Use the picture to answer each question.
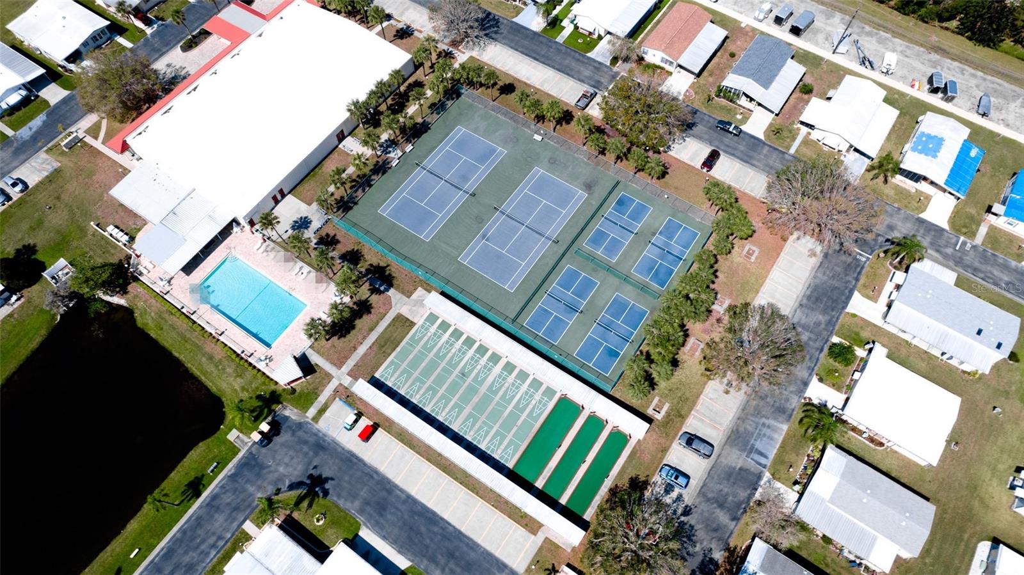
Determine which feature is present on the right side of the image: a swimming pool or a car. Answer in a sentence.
Visible on the right side of the image is a car.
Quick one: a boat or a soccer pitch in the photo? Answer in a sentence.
The image shows a boat.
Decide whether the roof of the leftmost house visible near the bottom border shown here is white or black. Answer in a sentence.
The roof of the leftmost house visible near the bottom border is white.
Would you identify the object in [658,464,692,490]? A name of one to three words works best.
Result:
car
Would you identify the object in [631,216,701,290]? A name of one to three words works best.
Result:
sports court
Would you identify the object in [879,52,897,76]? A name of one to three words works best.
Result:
boat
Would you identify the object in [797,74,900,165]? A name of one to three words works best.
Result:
house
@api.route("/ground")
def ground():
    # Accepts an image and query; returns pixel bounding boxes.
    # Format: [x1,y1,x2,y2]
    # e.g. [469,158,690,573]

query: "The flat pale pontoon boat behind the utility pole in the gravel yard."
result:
[834,29,850,54]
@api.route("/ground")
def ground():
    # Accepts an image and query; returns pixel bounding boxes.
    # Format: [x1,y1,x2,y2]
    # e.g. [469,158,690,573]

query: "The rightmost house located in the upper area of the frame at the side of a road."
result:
[984,170,1024,251]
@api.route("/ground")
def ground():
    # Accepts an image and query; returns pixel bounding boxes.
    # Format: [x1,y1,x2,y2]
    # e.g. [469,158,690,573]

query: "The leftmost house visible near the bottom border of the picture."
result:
[225,523,322,575]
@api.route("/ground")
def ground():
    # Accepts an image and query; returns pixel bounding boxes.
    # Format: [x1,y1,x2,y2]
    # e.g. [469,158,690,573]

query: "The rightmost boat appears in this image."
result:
[976,92,992,117]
